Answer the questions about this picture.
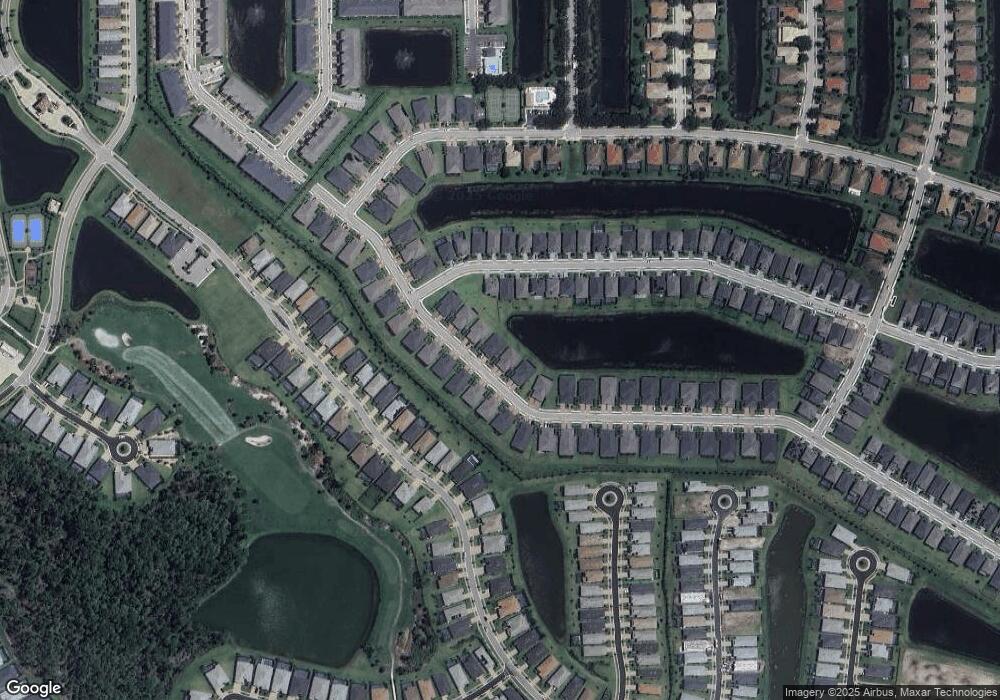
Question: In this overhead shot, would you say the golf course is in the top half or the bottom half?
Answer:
bottom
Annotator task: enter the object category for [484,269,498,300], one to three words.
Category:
house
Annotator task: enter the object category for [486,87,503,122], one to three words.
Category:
tennis court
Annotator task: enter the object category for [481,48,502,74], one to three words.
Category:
swimming pool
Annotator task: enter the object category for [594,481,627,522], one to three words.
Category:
roundabout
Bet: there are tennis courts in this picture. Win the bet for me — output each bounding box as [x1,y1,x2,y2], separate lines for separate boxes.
[11,214,26,248]
[504,87,520,122]
[27,214,44,248]
[486,87,503,122]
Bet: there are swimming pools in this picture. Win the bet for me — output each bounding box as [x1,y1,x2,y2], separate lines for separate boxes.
[527,87,555,108]
[481,48,502,74]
